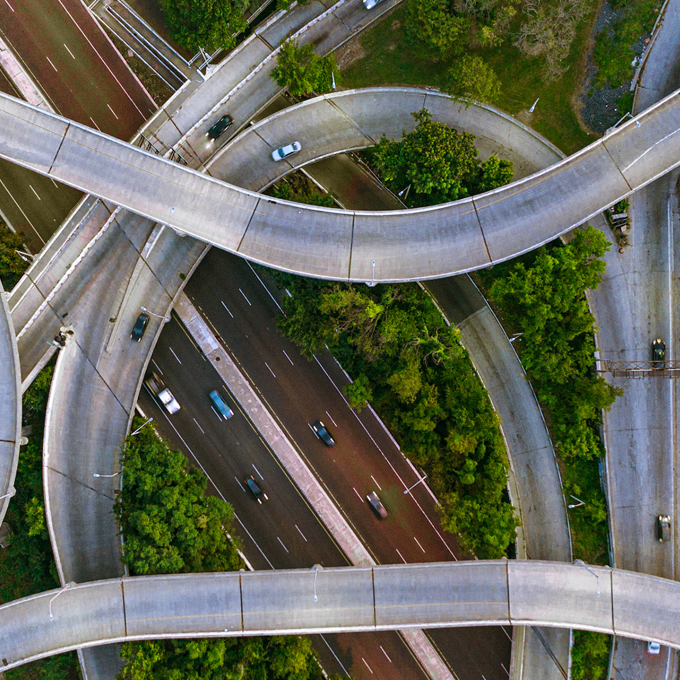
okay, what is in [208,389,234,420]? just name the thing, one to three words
car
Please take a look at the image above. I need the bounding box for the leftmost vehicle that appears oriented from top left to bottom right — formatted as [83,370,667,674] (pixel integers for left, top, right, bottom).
[146,372,179,413]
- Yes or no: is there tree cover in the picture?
Yes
